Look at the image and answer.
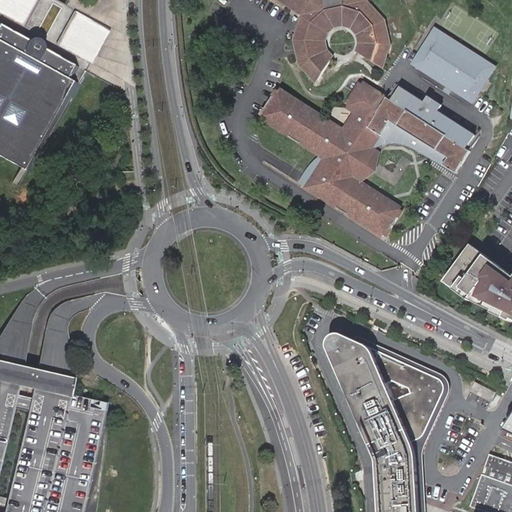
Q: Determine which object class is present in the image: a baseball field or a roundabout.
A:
roundabout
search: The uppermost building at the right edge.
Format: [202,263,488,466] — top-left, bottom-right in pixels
[410,22,498,105]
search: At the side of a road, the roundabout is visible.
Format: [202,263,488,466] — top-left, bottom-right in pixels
[140,204,273,338]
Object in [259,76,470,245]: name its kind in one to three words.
building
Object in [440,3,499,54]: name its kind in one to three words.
sports court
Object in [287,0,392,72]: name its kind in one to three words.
building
